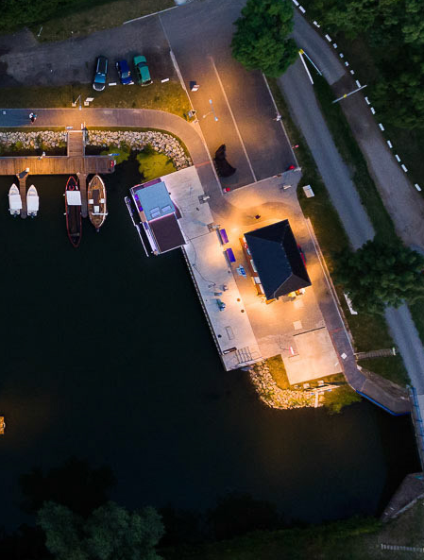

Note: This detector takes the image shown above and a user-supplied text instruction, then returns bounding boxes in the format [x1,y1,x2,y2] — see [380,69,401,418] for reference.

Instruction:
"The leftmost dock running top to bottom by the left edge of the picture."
[13,175,30,218]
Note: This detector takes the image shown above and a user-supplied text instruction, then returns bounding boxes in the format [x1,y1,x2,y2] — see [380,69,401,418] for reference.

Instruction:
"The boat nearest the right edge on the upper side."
[89,172,107,233]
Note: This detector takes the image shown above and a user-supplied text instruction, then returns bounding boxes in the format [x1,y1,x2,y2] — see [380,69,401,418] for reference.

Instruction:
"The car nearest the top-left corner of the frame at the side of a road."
[91,55,108,91]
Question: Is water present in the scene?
Yes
